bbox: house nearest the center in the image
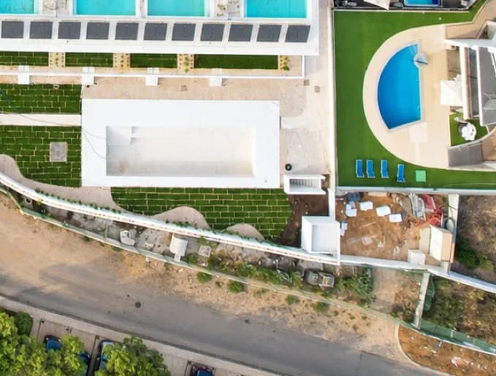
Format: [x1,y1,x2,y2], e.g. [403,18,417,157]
[279,171,326,195]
